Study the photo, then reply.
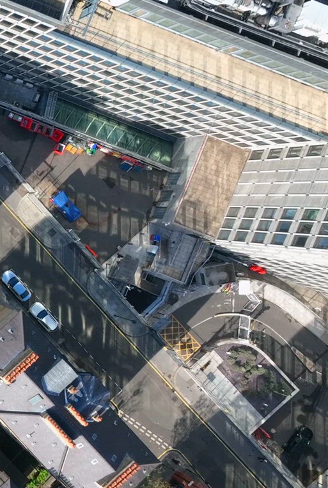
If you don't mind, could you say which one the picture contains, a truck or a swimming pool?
truck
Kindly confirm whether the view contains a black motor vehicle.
Yes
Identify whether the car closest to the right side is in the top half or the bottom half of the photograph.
bottom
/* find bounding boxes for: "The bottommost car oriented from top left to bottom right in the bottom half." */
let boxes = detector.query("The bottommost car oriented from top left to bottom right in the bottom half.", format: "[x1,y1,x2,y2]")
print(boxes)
[28,299,62,335]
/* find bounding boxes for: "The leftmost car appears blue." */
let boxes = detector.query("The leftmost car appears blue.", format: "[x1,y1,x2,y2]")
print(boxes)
[0,268,35,305]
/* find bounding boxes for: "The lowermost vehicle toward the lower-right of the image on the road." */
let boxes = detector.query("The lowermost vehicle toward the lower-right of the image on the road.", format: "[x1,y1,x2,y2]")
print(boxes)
[284,421,315,463]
